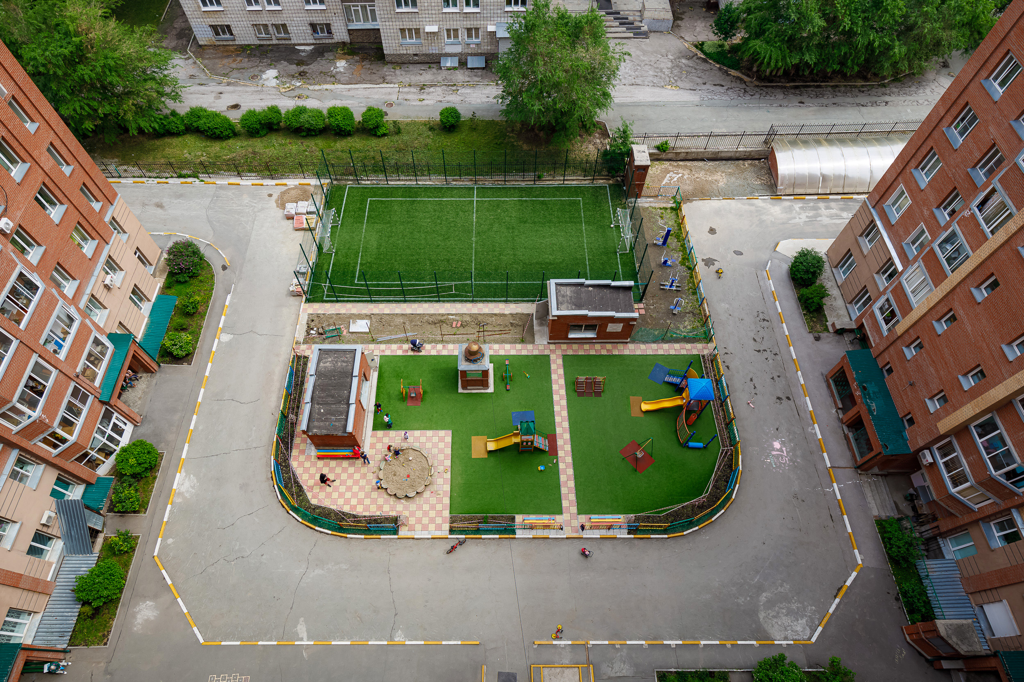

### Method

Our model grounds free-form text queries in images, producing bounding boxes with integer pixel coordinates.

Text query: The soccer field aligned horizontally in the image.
[307,183,652,301]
